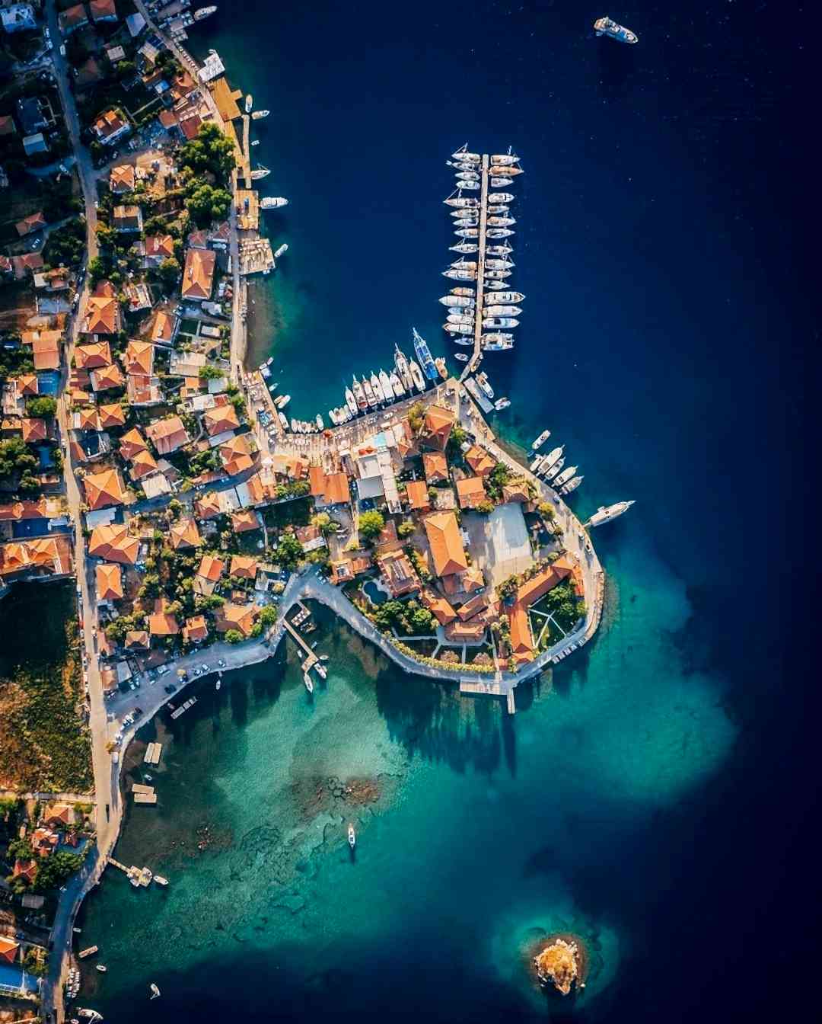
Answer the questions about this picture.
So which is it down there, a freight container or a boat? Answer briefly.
boat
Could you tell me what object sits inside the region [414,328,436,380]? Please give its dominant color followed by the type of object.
blue boat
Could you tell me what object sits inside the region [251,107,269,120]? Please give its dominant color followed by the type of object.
white boat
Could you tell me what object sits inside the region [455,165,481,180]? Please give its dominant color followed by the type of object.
white boat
